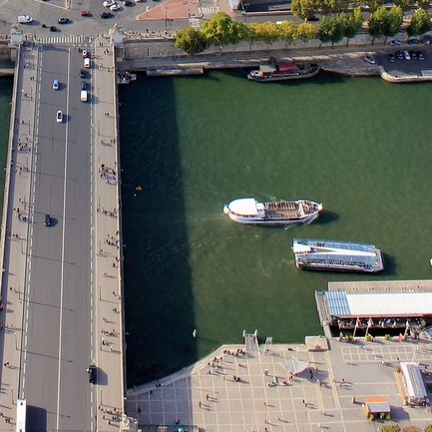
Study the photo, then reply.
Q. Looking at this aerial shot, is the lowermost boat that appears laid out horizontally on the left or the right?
right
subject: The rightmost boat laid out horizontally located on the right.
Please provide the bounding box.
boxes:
[292,241,386,275]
